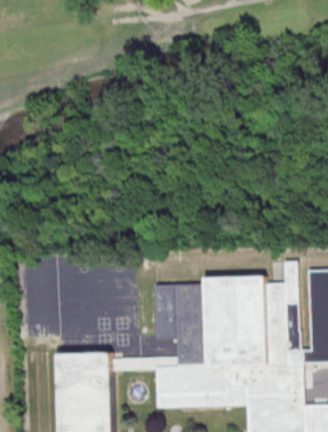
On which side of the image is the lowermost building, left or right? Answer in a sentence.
The lowermost building sits on the left side.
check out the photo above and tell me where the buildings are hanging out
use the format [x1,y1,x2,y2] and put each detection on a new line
[54,352,116,432]
[156,260,328,432]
